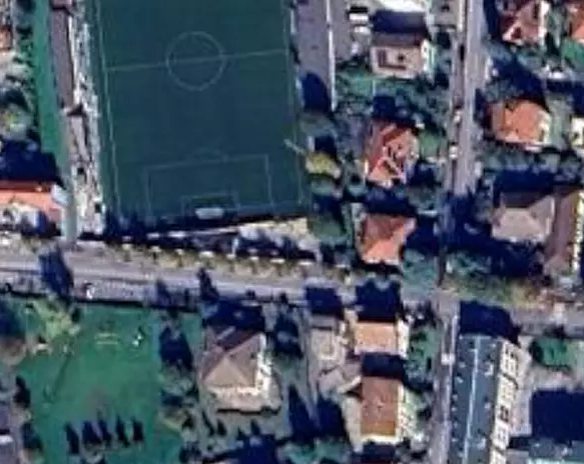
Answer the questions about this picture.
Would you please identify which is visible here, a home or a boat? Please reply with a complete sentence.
It is a home that can be seen here.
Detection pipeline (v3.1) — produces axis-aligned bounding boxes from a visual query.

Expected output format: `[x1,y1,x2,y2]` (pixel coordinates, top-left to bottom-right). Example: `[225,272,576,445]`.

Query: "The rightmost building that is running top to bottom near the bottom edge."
[450,335,516,464]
